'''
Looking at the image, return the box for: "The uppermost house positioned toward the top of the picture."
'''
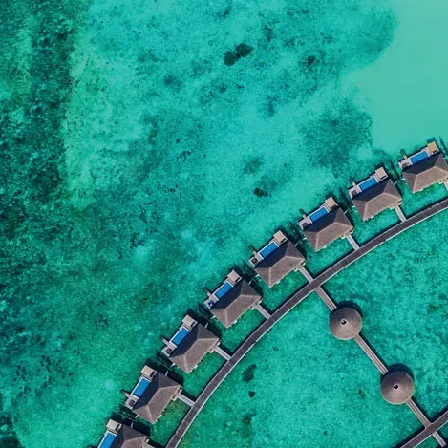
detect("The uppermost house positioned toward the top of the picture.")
[399,143,448,193]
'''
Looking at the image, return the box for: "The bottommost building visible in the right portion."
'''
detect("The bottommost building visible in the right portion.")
[382,370,414,403]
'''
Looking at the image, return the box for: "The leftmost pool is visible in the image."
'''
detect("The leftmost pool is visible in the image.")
[100,430,120,448]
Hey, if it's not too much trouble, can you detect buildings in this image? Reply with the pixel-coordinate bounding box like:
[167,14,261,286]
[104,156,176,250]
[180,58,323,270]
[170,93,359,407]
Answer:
[382,370,414,403]
[399,143,448,193]
[299,198,357,252]
[250,232,309,288]
[164,316,223,374]
[124,365,185,424]
[108,418,150,448]
[347,169,405,221]
[205,271,265,328]
[329,307,362,339]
